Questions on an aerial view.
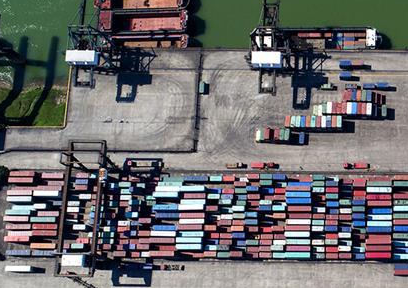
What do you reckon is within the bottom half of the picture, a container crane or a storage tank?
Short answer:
container crane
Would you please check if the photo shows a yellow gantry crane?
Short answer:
No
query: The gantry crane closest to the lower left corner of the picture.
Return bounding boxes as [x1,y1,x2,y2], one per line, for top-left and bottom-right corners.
[55,141,125,288]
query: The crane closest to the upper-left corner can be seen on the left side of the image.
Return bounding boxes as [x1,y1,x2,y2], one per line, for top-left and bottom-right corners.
[63,0,126,88]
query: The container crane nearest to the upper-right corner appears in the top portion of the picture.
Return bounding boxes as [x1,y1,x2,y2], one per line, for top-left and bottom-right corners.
[249,0,306,94]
